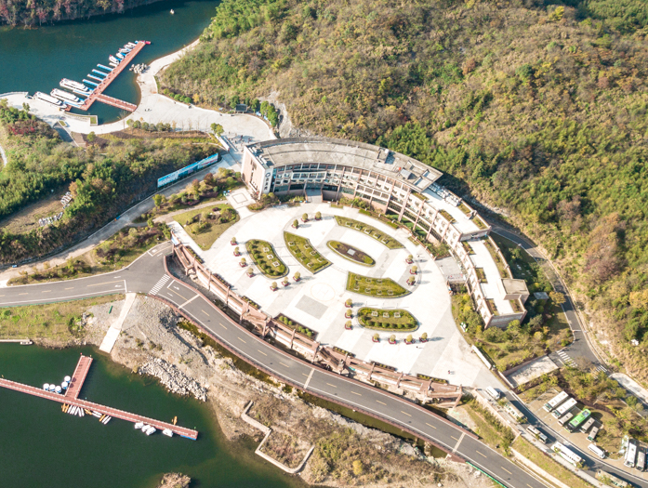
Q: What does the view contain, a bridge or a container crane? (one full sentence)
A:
This aerial view contains a bridge.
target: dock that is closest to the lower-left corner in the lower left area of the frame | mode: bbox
[0,355,198,442]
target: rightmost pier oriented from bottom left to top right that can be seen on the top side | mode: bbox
[80,40,146,111]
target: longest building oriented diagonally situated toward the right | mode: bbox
[243,137,541,347]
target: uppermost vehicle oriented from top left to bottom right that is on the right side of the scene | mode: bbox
[482,387,502,404]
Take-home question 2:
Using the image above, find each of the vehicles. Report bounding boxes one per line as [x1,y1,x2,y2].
[583,427,600,444]
[553,412,574,428]
[547,442,585,472]
[547,398,578,422]
[620,441,637,469]
[584,444,606,461]
[482,387,502,404]
[538,391,570,415]
[576,417,597,436]
[632,451,647,474]
[560,410,591,435]
[592,471,628,488]
[523,425,549,447]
